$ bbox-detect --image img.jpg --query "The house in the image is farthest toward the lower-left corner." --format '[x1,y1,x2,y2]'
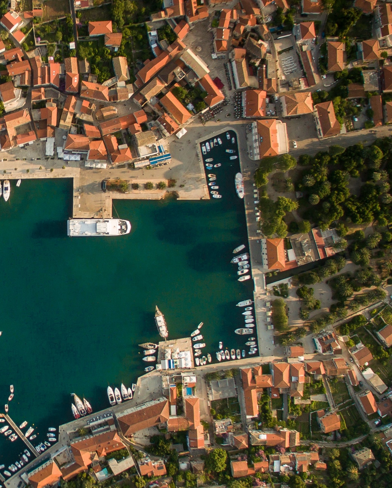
[20,461,62,488]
